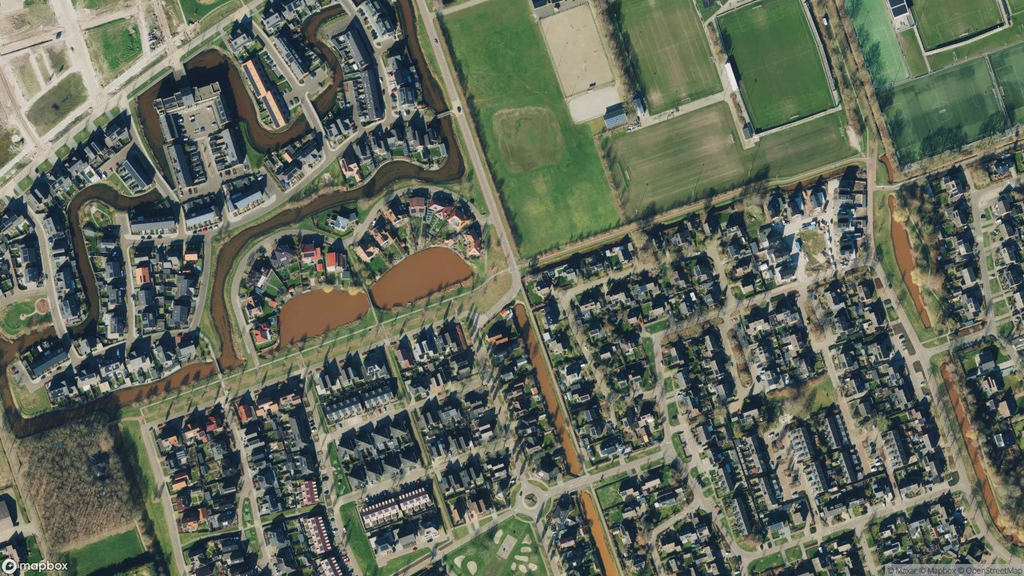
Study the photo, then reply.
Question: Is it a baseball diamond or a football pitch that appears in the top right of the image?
football pitch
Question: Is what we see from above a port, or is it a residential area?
residential area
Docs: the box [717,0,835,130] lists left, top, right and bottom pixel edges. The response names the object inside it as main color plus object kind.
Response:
green soccer field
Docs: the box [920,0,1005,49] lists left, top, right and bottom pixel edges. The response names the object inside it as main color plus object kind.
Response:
green soccer field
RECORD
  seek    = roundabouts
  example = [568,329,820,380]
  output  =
[514,483,549,515]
